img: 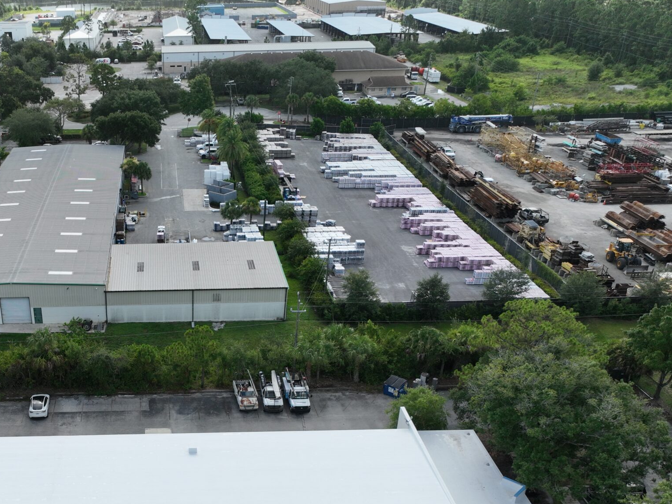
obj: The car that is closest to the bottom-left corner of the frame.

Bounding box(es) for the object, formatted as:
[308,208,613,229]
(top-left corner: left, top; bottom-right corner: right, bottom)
[26,394,48,419]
